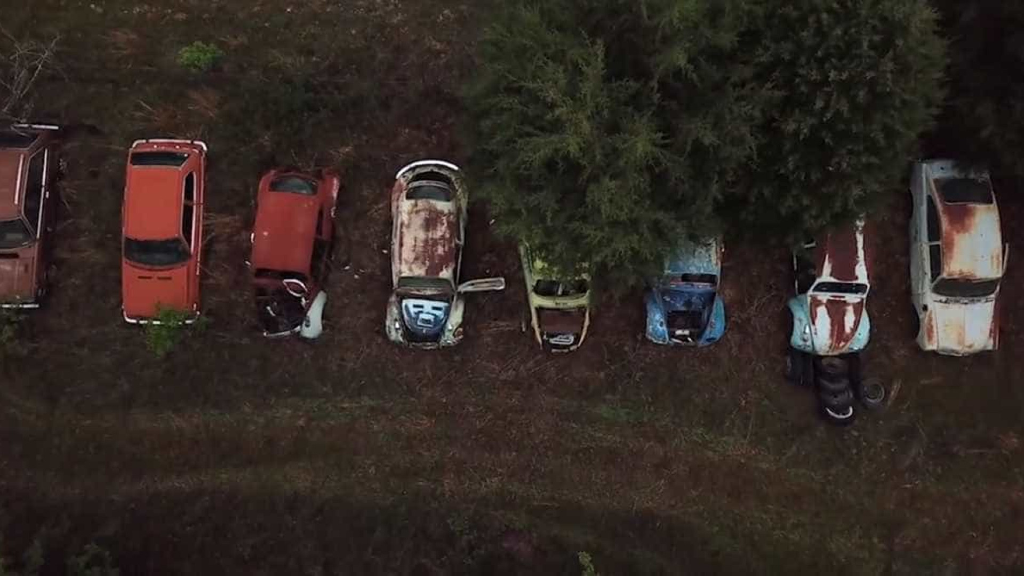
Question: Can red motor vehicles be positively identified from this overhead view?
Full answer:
Yes, a red motor vehicle is visible in the scene.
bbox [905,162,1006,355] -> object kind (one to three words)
car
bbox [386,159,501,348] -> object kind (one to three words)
car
